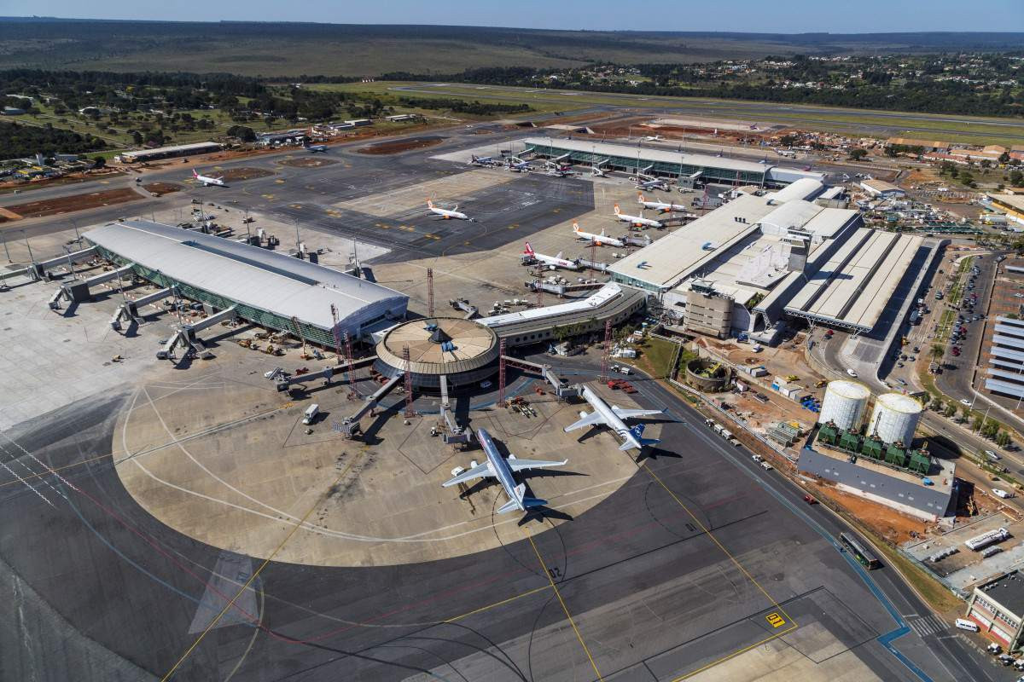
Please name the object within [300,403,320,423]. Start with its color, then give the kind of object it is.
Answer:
white vehicle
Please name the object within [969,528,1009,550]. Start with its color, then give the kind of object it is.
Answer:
white truck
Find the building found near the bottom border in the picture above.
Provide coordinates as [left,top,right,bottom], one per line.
[967,573,1024,655]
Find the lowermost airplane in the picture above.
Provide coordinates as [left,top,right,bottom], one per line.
[442,430,561,518]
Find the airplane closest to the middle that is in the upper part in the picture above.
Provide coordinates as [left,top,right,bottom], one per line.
[523,240,576,271]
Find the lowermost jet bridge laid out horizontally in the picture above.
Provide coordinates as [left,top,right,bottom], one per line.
[274,358,379,395]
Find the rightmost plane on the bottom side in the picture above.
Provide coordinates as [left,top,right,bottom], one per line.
[565,385,664,453]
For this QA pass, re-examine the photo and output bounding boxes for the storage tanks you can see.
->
[865,389,923,450]
[819,377,872,435]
